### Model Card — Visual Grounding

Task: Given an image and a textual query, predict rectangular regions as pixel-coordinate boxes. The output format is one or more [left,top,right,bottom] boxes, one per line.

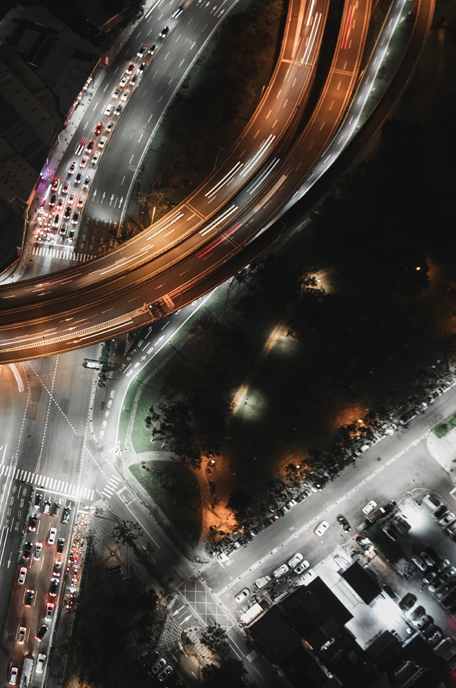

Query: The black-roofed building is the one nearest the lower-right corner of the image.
[362,630,432,688]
